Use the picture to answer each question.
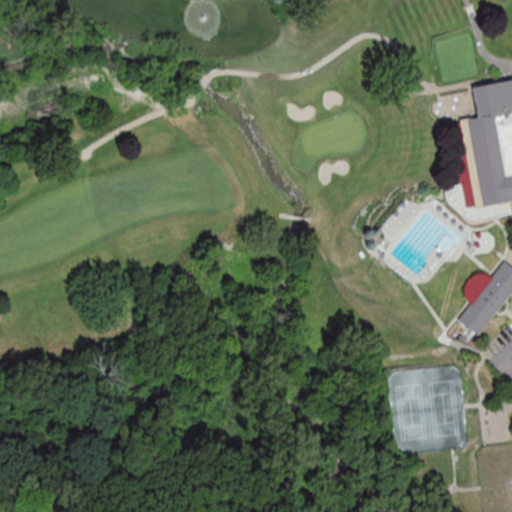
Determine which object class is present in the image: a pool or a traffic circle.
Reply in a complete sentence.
The one in the frame is a pool.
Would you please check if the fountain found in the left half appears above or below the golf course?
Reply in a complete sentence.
In the image, the fountain found in the left half sits above the golf course.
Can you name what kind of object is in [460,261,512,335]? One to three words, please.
building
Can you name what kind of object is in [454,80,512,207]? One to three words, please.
building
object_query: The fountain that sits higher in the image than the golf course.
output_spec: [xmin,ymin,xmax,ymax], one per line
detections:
[184,0,221,38]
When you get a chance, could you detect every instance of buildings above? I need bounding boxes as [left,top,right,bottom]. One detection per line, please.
[454,80,512,207]
[460,261,512,335]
